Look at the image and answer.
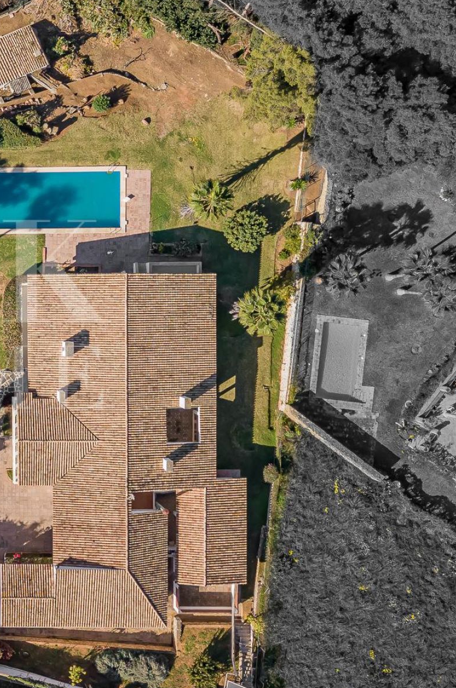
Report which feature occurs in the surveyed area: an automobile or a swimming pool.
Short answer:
swimming pool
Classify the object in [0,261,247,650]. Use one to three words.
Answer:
house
